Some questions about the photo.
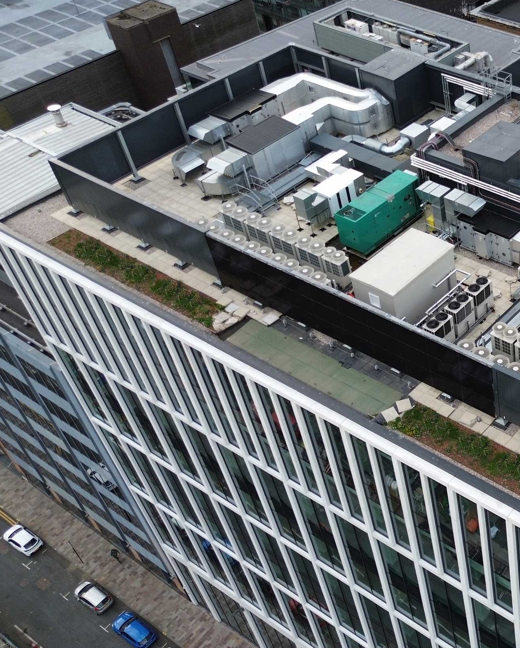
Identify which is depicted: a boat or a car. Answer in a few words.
car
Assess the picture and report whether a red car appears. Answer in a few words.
No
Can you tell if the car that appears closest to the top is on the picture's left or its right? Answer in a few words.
left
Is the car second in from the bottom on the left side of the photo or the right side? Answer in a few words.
left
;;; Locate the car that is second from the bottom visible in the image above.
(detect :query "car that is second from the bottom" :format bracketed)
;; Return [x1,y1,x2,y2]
[69,577,114,615]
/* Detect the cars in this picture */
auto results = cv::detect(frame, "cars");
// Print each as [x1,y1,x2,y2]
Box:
[108,607,157,648]
[69,577,114,615]
[1,521,44,557]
